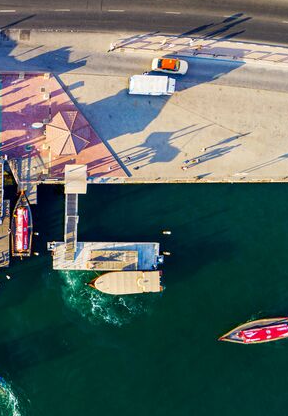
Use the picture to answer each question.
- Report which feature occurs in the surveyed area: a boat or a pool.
boat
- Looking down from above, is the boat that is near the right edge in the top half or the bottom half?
bottom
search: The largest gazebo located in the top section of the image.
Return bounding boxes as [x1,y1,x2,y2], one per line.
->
[44,110,91,156]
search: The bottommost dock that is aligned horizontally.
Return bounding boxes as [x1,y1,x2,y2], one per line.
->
[52,242,159,270]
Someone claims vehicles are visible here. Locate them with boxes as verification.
[151,57,187,73]
[125,75,173,97]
